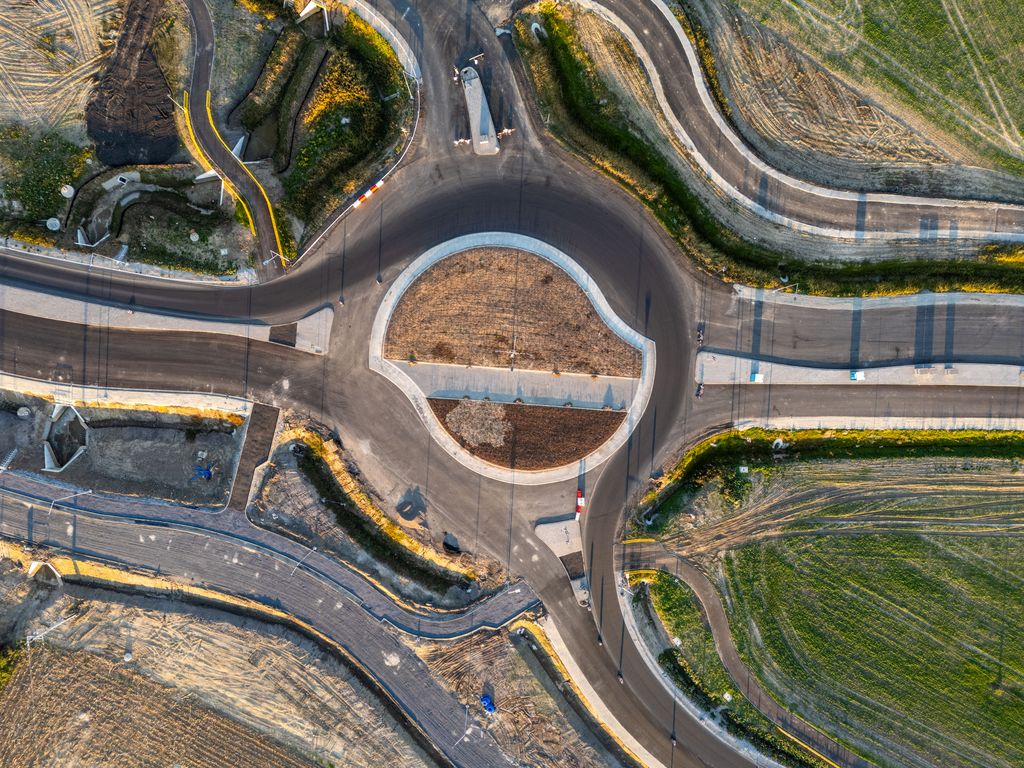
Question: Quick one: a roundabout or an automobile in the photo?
roundabout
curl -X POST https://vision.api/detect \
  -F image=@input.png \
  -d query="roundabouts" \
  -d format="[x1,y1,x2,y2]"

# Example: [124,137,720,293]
[286,107,734,568]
